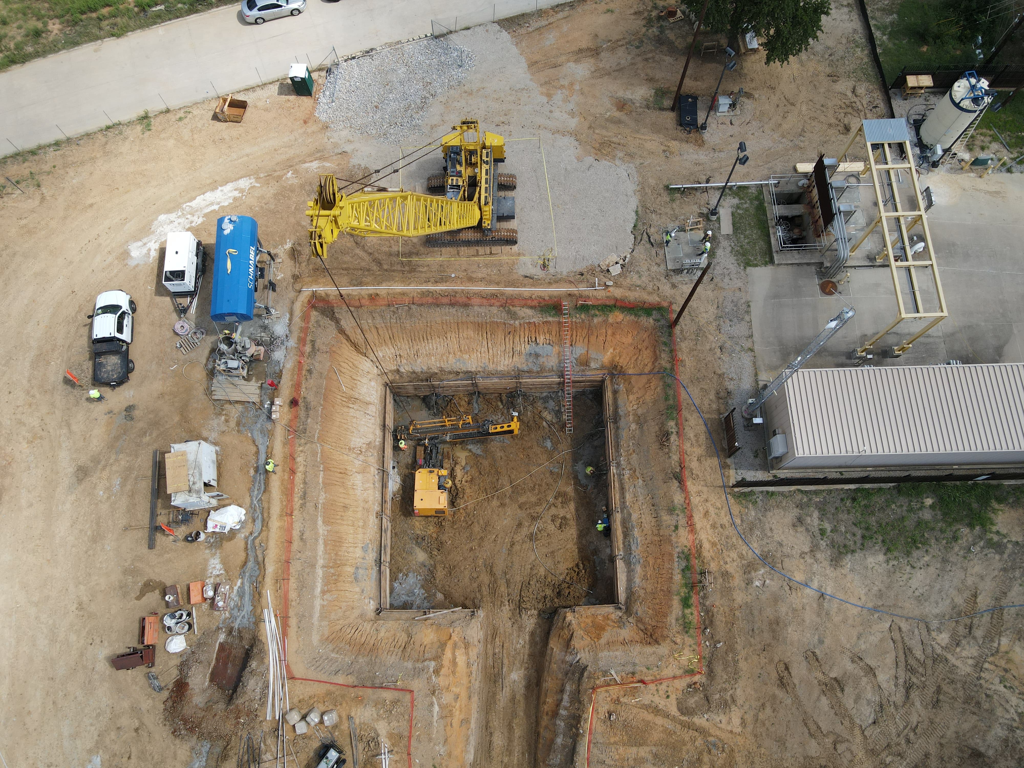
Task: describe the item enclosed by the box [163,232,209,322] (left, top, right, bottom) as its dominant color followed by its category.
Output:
white trailer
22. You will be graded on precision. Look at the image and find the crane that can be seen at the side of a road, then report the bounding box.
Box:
[304,115,518,486]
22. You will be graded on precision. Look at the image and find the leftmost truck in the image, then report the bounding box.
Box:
[83,287,134,385]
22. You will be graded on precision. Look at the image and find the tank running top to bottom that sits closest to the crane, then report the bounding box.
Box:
[215,213,275,342]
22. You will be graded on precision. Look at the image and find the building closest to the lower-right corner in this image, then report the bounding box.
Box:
[754,358,1024,477]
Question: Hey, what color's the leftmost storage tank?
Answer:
blue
